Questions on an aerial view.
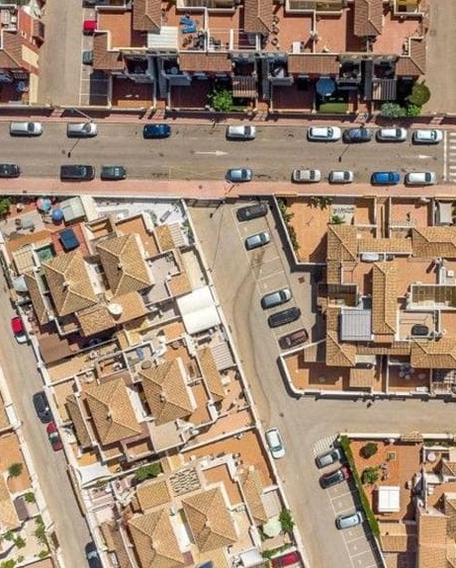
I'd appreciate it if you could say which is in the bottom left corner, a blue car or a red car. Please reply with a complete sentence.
Visible in the bottom left corner is a red car.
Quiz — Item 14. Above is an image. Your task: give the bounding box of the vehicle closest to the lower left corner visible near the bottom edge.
[85,542,103,568]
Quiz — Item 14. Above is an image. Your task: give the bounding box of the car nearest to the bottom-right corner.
[335,511,363,529]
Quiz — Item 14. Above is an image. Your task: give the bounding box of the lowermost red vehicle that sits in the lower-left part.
[44,421,64,450]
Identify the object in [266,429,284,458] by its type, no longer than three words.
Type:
car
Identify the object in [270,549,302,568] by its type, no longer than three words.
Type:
car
